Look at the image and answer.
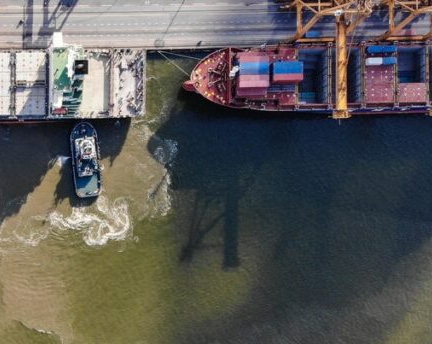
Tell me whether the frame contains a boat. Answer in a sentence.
Yes, the frame does contain a boat.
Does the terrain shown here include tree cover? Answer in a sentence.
No, no tree cover is visible.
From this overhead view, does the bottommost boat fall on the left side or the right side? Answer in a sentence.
You can find the bottommost boat on the left side of the picture.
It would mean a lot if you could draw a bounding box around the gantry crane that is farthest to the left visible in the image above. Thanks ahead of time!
[276,0,368,126]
